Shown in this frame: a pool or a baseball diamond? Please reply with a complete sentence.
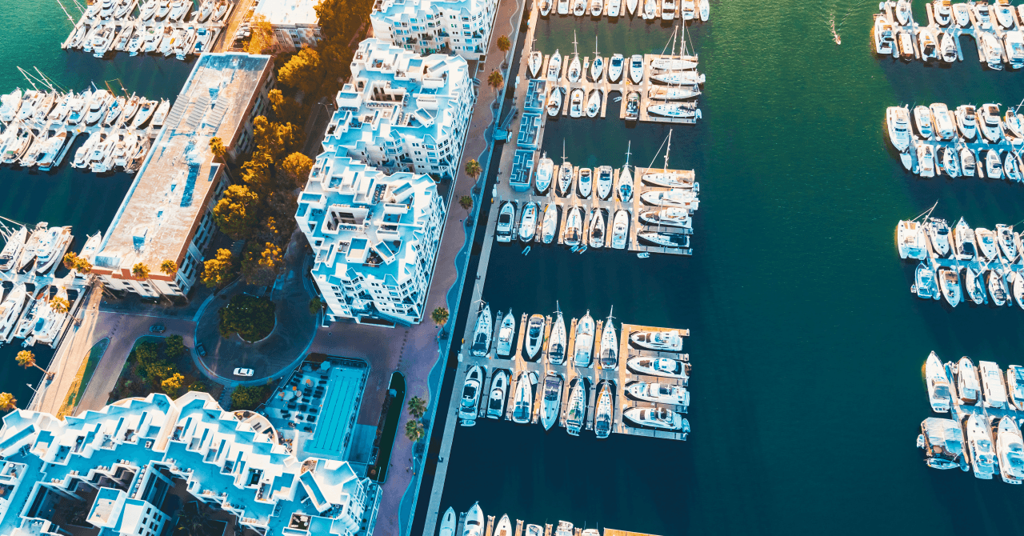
Of the two, only a pool appears.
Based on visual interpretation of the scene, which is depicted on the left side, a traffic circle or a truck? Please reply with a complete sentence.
The feature located on the left side is a traffic circle.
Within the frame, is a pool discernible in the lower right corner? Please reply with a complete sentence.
No, I can find no pool in the lower right corner.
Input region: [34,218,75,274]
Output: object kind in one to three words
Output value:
boat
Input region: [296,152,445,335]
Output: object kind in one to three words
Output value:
building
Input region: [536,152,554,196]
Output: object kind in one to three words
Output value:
boat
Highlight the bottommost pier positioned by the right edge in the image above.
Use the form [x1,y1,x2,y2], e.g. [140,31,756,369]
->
[942,356,1024,472]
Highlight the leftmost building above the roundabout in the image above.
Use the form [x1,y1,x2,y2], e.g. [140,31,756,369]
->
[81,47,279,296]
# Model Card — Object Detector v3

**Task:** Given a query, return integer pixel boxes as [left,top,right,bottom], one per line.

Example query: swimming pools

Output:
[259,351,370,461]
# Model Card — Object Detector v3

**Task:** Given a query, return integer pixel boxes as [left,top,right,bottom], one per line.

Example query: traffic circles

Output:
[186,276,321,389]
